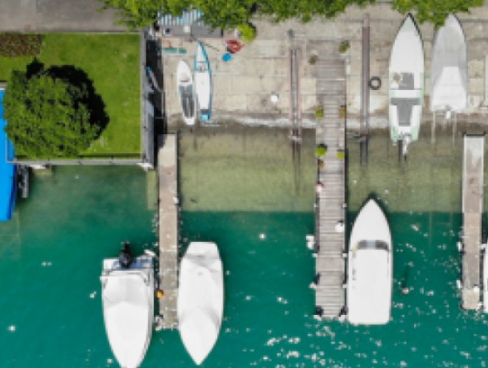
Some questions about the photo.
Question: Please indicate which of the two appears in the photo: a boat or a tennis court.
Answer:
boat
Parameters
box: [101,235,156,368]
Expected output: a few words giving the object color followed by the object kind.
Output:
white boat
